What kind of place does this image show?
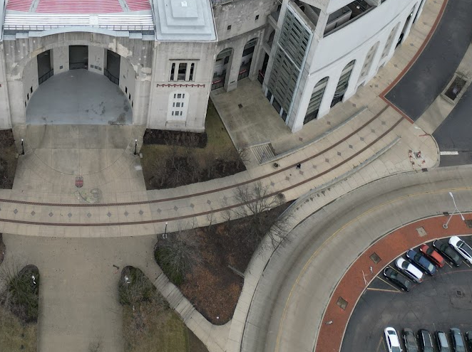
sports ground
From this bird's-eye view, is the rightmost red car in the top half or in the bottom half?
bottom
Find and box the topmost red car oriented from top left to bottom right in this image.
[420,241,446,266]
